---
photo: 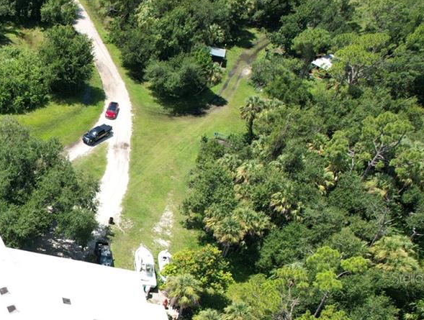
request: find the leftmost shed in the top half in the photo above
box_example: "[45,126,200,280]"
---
[206,44,233,64]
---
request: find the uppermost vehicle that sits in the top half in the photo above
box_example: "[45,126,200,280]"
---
[105,101,118,117]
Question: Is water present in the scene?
No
